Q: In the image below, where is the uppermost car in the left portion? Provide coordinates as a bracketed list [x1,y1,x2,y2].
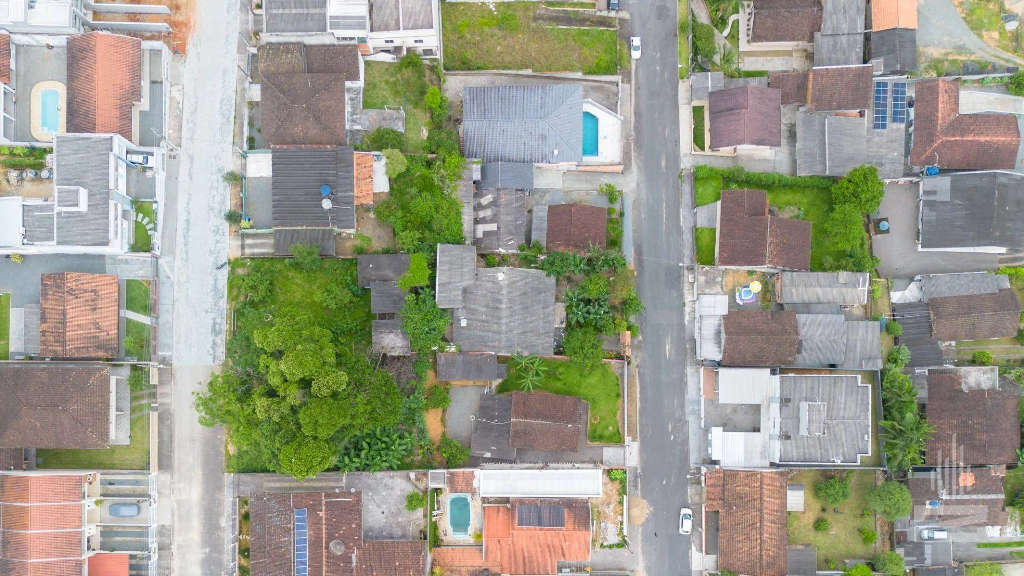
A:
[132,154,155,166]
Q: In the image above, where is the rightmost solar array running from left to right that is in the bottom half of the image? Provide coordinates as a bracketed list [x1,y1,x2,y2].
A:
[518,506,564,527]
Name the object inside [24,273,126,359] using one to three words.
house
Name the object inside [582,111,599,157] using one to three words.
swimming pool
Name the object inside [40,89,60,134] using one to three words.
swimming pool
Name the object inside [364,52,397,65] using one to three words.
shed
